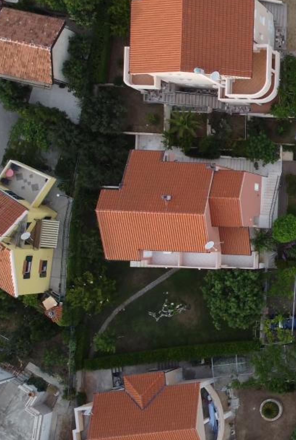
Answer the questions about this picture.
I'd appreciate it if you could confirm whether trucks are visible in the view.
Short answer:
No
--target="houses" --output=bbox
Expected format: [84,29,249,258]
[71,364,233,440]
[0,160,71,298]
[0,7,85,90]
[125,0,293,111]
[95,136,290,269]
[0,354,71,440]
